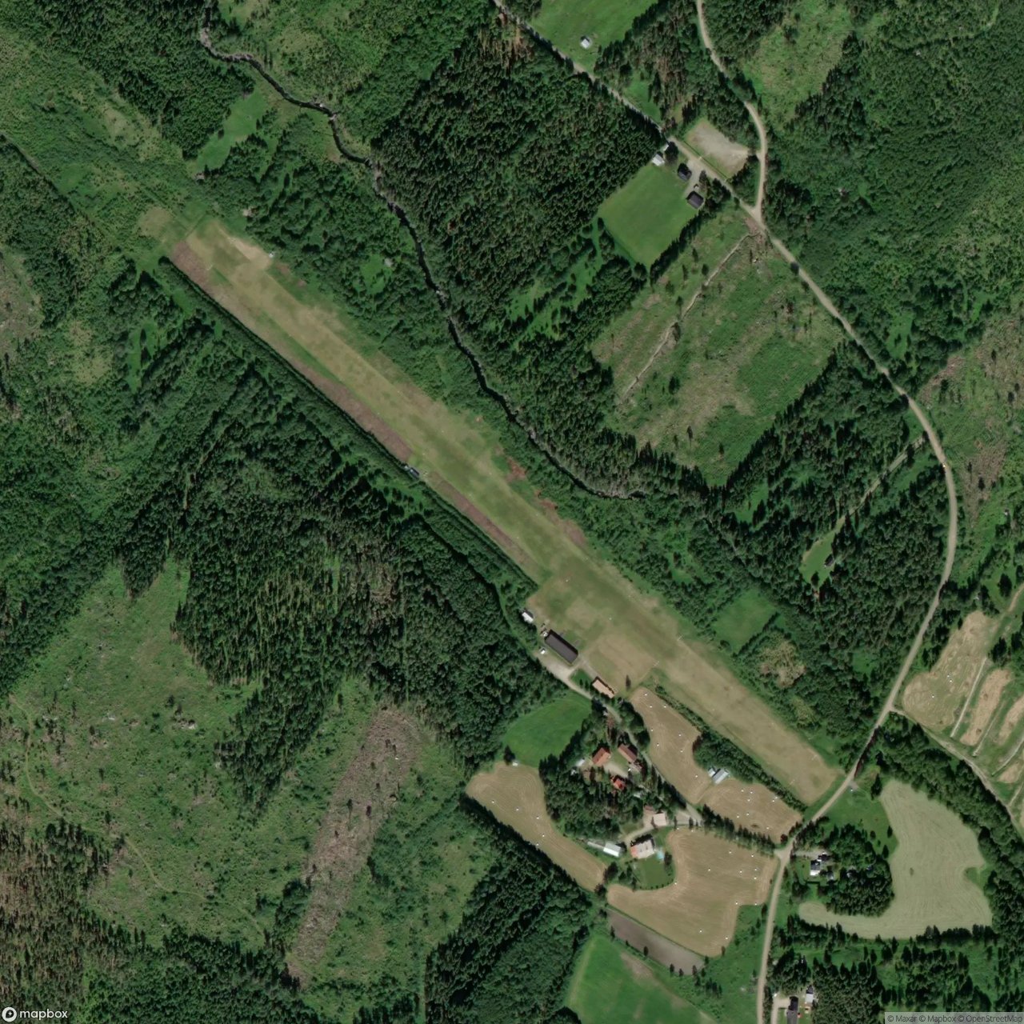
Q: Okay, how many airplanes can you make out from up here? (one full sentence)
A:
I count no airplanes.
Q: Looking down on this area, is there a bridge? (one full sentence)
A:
No, I can see no bridge in this picture.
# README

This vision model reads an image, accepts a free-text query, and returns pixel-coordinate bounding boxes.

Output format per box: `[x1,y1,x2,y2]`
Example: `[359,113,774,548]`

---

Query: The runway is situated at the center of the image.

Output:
[192,227,824,788]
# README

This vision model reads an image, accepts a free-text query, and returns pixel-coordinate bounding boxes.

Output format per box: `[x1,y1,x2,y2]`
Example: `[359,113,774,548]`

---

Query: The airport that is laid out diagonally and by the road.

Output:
[170,217,840,805]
